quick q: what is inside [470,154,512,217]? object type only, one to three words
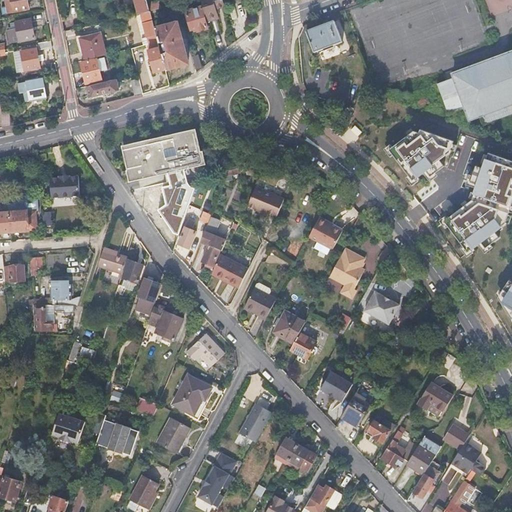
building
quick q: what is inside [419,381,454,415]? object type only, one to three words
house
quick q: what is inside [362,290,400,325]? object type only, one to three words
house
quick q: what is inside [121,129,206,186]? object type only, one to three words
building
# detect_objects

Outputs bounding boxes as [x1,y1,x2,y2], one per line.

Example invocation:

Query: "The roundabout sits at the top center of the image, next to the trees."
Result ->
[213,72,286,144]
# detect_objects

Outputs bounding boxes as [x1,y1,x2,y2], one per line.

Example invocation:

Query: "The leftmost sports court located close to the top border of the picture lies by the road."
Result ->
[350,0,484,82]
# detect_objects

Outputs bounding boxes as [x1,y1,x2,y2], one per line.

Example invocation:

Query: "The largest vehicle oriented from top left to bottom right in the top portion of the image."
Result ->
[88,156,106,176]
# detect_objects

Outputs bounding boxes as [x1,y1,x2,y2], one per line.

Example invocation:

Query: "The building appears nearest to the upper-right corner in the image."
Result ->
[438,50,512,124]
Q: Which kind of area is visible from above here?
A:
residential area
